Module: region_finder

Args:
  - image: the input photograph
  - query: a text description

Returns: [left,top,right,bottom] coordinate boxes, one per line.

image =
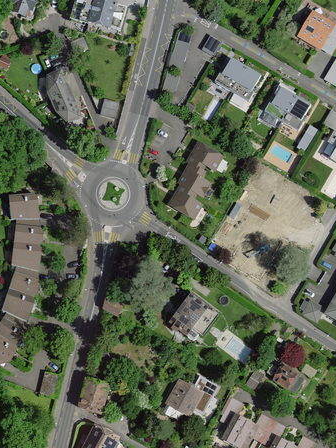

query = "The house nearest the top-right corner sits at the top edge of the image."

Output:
[296,10,336,54]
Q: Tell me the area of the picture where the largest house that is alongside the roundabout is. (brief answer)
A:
center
